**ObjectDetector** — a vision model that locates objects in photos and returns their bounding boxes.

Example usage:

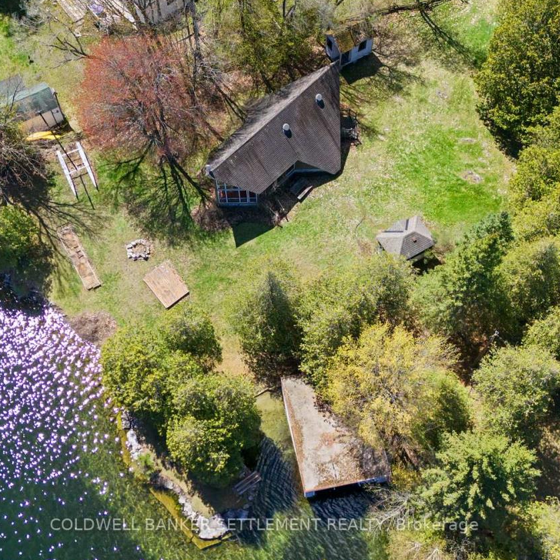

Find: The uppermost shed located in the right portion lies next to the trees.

[324,16,378,69]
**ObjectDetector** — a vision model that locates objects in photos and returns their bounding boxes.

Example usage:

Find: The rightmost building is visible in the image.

[380,215,434,266]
